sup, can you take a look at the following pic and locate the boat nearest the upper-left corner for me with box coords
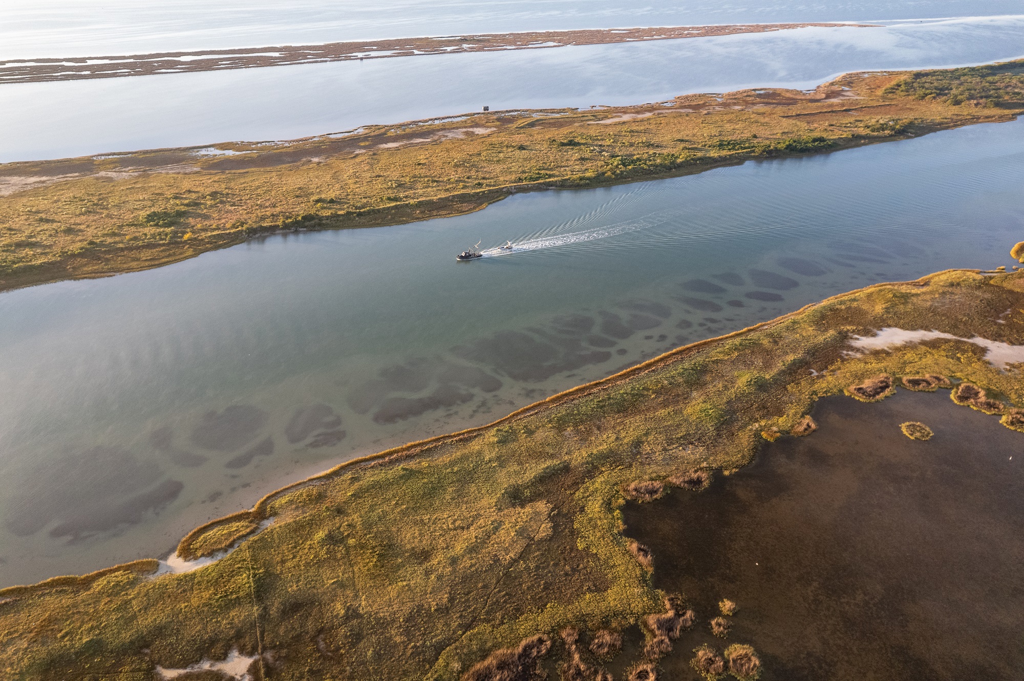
[456,236,483,258]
